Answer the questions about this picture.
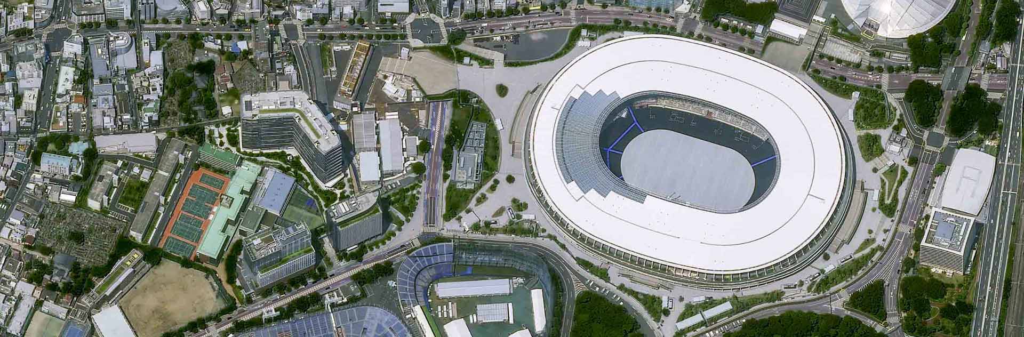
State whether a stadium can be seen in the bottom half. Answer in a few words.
Yes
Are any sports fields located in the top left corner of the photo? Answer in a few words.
No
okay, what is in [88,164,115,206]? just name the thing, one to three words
building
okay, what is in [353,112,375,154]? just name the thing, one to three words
building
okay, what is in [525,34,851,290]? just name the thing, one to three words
stadium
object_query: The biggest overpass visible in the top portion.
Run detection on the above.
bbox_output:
[941,50,975,112]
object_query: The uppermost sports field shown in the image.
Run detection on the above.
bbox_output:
[281,182,325,225]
